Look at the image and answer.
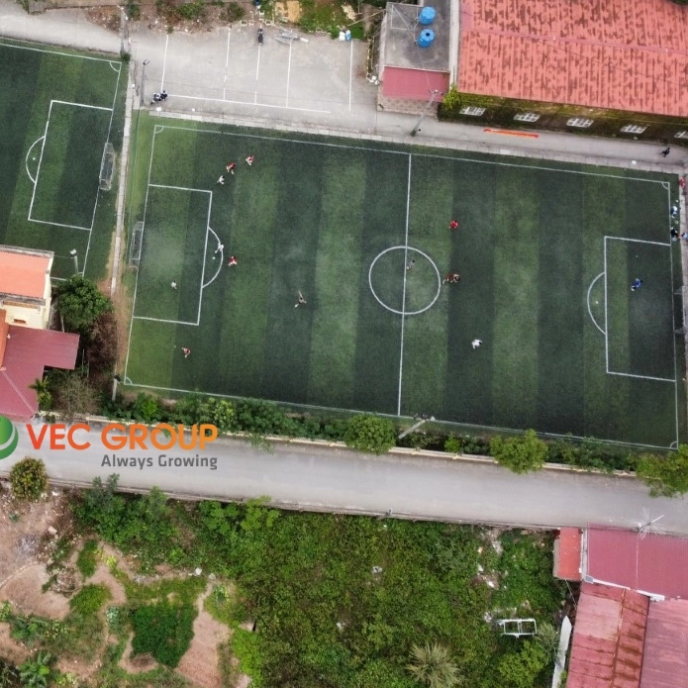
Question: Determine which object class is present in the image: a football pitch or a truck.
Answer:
football pitch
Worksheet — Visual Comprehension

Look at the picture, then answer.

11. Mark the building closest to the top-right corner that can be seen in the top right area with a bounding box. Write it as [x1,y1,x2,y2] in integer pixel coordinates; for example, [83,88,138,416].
[432,0,688,146]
